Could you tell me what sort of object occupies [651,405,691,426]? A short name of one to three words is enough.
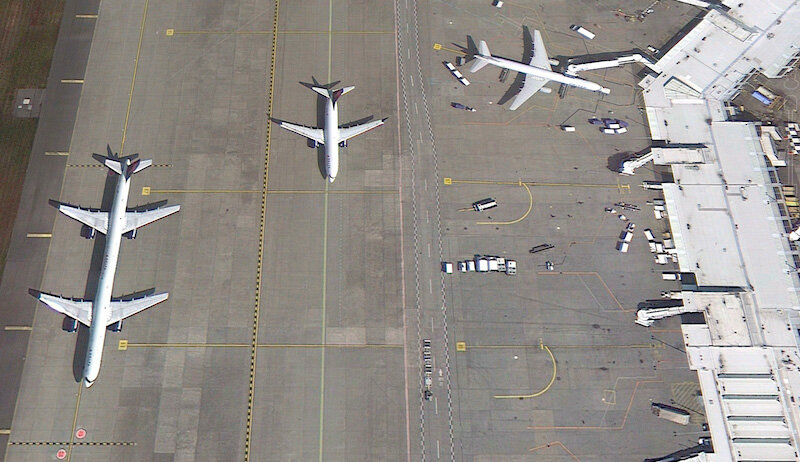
truck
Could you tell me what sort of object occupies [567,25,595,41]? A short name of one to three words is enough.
vehicle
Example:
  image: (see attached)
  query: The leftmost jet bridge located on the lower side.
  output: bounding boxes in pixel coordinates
[632,306,686,328]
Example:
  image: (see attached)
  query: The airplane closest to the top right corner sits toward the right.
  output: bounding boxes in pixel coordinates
[472,27,610,109]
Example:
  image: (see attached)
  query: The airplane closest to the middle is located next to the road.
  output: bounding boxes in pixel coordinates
[277,74,388,182]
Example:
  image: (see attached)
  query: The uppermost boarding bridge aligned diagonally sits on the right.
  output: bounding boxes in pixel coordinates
[618,151,655,179]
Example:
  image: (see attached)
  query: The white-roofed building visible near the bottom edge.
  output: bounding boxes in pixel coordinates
[680,284,800,462]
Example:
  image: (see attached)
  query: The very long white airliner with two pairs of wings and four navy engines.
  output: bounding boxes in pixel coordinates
[37,149,174,388]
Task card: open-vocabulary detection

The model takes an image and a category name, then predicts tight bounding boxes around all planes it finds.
[472,27,610,109]
[37,149,174,388]
[277,74,388,182]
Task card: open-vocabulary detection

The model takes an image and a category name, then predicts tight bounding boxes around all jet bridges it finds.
[632,306,686,328]
[618,151,655,179]
[676,451,716,462]
[565,53,661,77]
[659,0,713,13]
